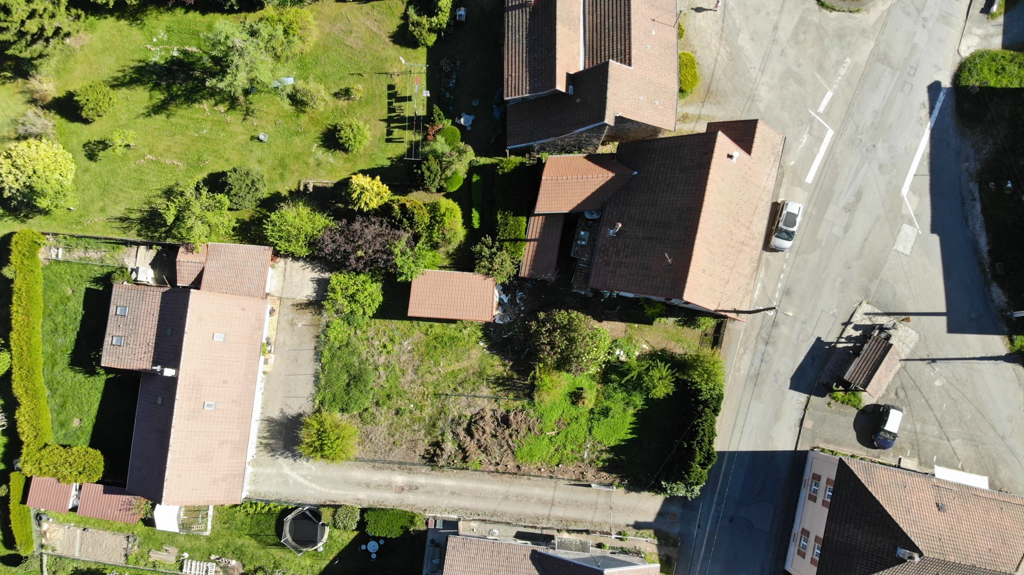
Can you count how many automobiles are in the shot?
2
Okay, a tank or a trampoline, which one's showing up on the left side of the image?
trampoline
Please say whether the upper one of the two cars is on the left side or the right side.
right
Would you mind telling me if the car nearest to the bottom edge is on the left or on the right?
right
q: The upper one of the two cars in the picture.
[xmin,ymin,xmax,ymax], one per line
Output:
[769,199,801,253]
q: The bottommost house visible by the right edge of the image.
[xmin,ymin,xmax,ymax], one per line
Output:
[791,453,1024,575]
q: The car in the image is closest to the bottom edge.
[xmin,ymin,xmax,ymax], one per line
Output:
[870,402,902,452]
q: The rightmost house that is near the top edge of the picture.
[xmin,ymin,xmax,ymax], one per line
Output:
[504,0,681,162]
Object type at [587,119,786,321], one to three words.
house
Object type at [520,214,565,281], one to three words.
shed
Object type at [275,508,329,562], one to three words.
trampoline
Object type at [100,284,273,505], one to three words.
house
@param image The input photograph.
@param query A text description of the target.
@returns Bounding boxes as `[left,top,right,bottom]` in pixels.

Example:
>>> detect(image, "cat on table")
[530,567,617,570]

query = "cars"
[769,199,801,253]
[870,402,902,452]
